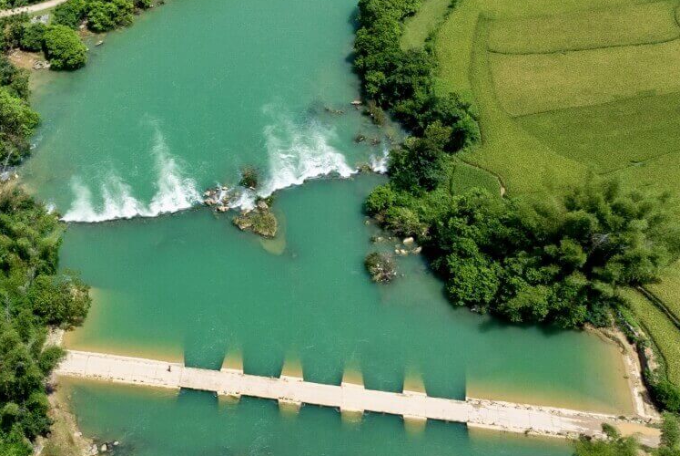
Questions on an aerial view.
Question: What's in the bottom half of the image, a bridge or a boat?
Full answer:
Visible in the bottom half of the image is a bridge.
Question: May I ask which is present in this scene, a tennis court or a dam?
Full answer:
This aerial view contains a dam.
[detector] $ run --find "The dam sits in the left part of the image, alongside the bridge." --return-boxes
[57,169,388,223]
